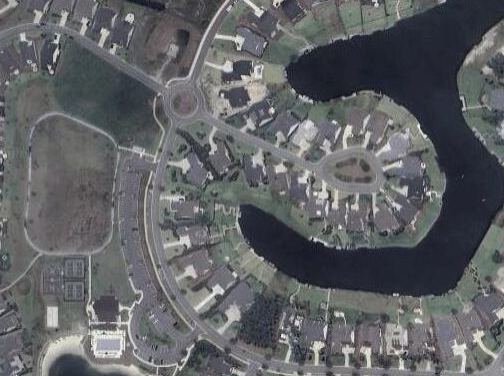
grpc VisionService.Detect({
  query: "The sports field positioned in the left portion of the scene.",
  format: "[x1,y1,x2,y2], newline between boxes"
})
[27,116,116,249]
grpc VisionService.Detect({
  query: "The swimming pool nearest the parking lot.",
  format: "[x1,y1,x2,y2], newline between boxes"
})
[95,331,125,357]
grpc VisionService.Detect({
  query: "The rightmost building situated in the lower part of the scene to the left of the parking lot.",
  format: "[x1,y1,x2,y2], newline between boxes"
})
[92,294,120,321]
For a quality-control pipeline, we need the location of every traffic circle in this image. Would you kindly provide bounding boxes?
[163,81,205,123]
